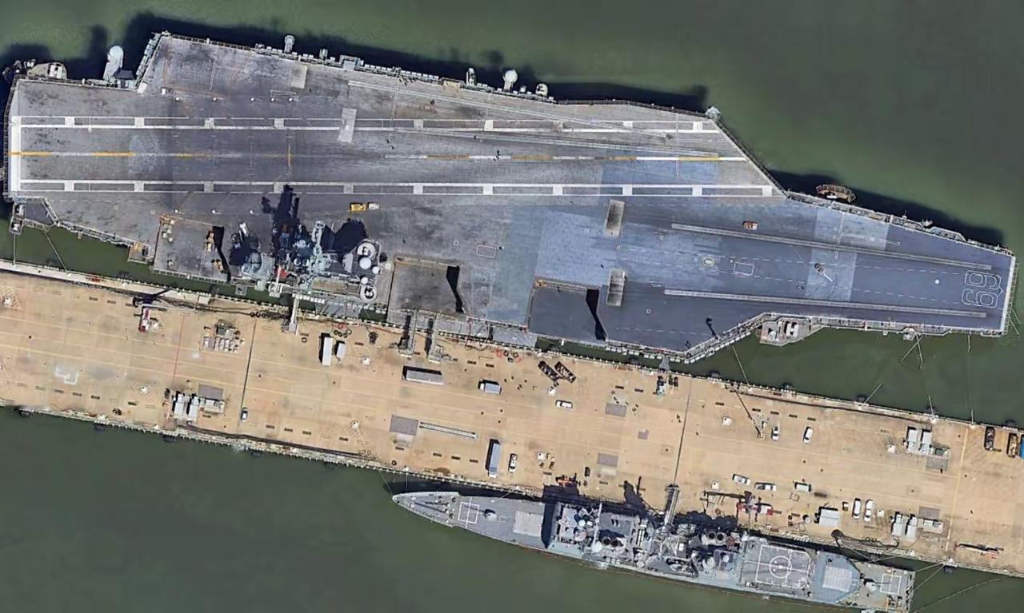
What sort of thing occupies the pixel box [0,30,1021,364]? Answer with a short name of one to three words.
ship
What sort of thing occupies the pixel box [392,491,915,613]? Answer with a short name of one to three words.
vessel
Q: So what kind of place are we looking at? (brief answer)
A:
port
